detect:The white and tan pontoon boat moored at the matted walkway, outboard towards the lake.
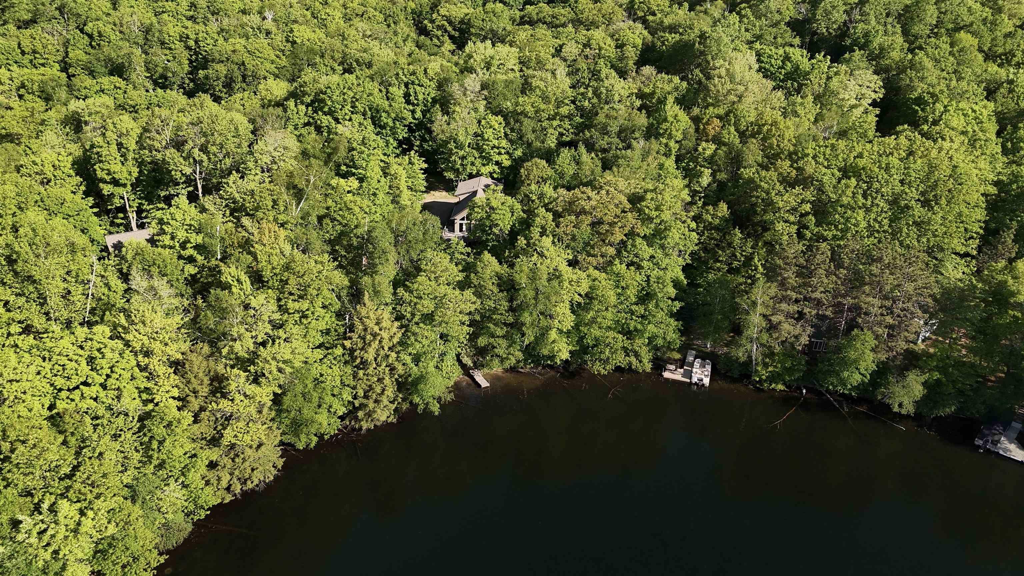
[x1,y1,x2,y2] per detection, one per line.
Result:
[692,359,711,392]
